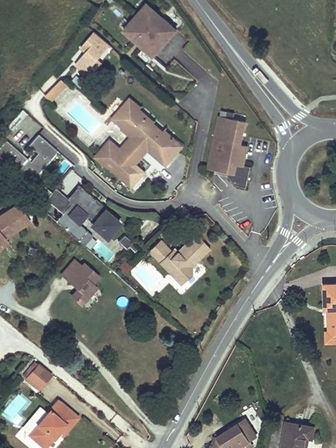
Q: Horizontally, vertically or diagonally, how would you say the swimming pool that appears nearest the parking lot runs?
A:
horizontally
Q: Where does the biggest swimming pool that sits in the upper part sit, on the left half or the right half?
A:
left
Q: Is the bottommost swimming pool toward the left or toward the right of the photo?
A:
left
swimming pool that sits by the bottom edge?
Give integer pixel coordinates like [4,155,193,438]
[2,392,32,426]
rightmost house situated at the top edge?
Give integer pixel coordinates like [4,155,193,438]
[122,3,178,58]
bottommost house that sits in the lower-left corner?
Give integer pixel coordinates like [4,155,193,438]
[30,399,80,448]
